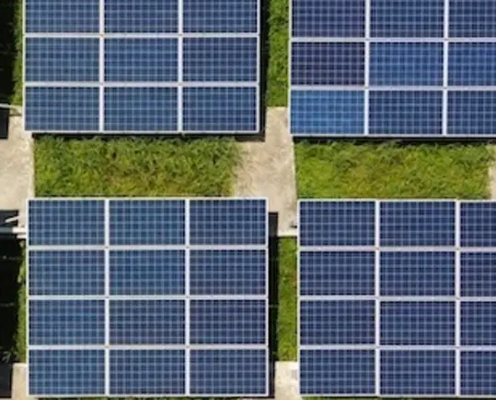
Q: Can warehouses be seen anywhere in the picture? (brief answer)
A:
No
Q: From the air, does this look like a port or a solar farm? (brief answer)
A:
solar farm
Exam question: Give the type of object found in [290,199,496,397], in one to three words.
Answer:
solar array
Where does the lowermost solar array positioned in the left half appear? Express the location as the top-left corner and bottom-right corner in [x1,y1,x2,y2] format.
[26,198,268,397]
